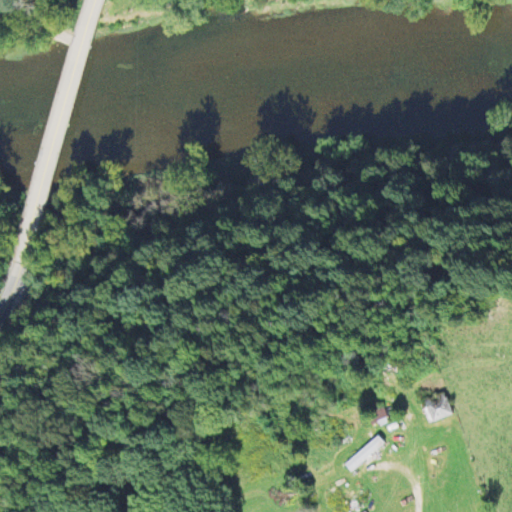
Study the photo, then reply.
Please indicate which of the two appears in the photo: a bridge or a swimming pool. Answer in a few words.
bridge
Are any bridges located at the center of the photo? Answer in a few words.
No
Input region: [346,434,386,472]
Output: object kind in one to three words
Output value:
shed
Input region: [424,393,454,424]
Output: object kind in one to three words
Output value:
house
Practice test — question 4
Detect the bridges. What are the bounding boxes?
[33,32,94,187]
